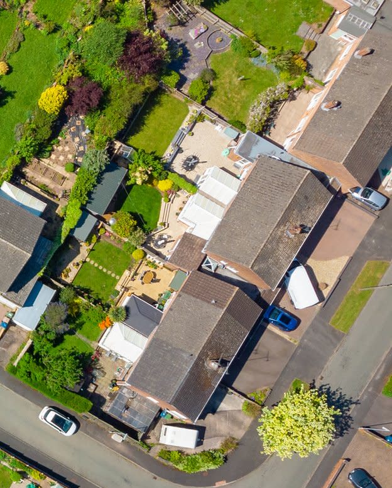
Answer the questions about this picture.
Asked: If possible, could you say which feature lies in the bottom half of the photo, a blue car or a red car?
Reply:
blue car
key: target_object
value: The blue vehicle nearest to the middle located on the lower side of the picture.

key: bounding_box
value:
[261,305,303,333]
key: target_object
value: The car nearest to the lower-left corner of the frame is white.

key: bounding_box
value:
[38,407,79,439]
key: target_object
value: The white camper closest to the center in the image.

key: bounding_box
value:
[277,265,320,312]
